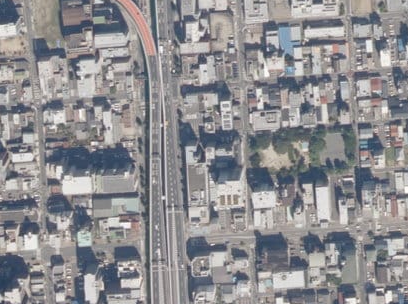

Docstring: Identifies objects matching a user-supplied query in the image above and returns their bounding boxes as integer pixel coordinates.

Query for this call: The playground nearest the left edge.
[261,144,292,168]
